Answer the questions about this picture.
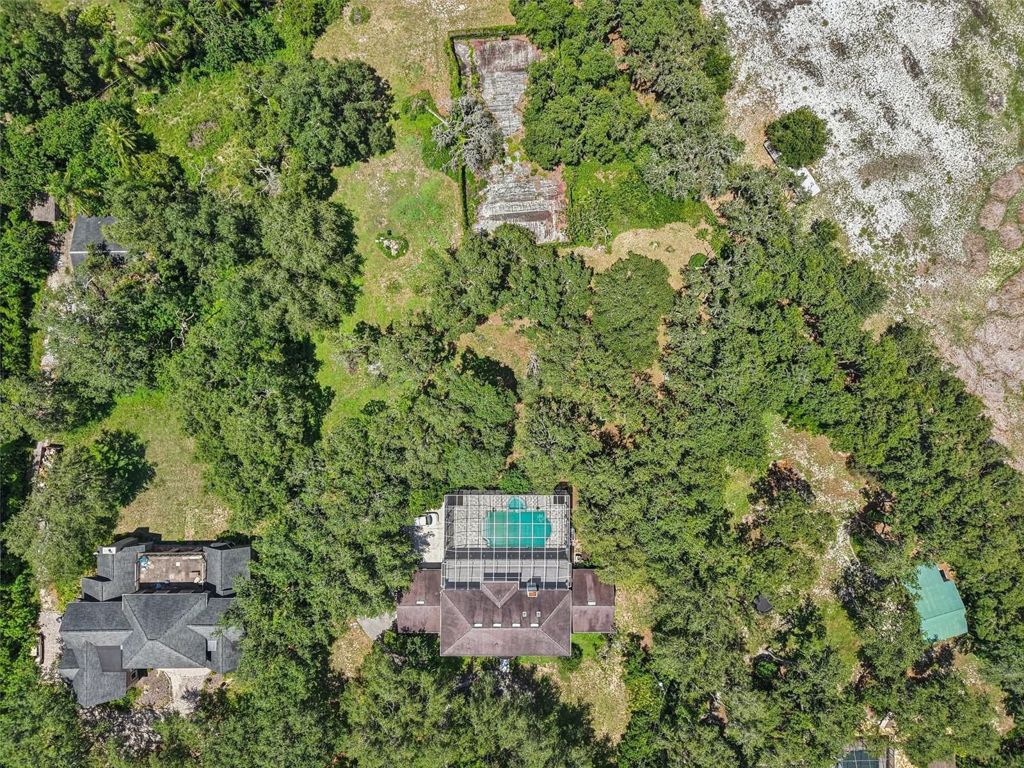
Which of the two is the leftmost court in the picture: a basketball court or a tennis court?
tennis court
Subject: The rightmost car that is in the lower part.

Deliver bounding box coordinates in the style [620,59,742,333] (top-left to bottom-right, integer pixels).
[411,513,439,526]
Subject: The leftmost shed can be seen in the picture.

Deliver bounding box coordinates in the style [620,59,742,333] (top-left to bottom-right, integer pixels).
[32,193,65,223]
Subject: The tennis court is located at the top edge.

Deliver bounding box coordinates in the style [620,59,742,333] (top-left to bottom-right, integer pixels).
[456,36,572,242]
